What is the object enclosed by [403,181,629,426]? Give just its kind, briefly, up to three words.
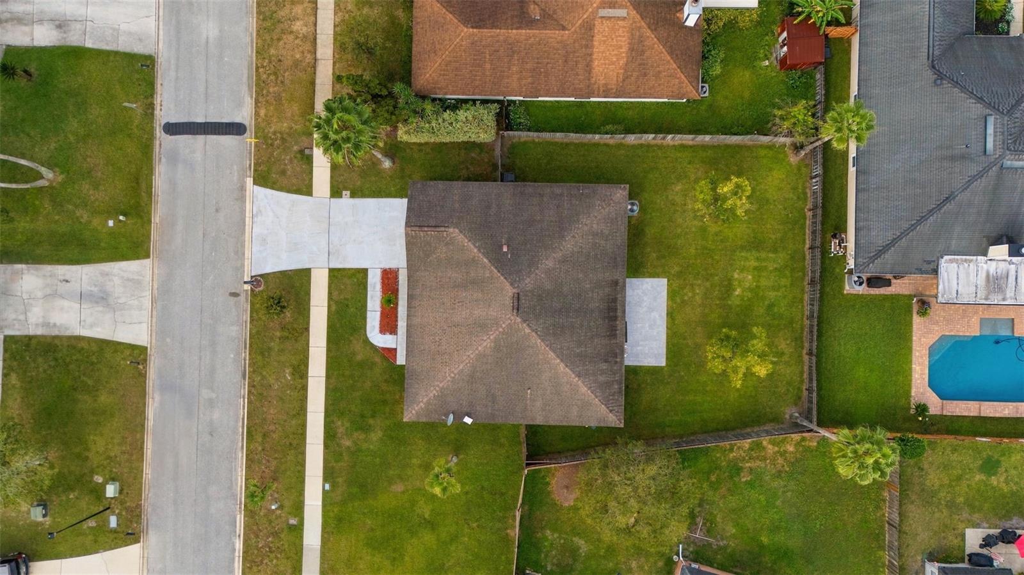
house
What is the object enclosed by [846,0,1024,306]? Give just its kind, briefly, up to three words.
house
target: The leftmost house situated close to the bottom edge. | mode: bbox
[676,545,736,575]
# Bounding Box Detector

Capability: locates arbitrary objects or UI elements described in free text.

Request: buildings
[411,0,758,101]
[676,545,736,575]
[403,181,629,426]
[846,0,1024,306]
[926,560,1014,575]
[774,16,828,73]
